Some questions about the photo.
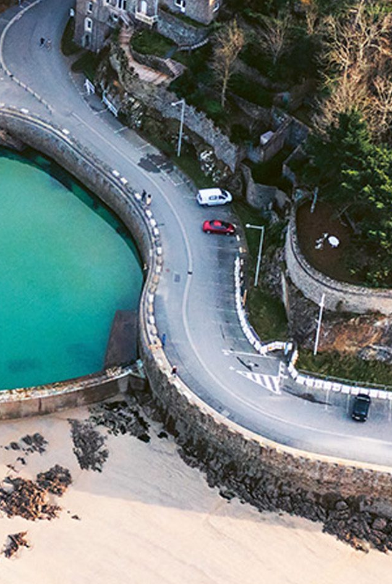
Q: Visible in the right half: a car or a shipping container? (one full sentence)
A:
Looking in the right half, you will find a car.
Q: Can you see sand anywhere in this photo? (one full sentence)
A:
Yes, the picture does contain sand.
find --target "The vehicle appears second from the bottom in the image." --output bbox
[203,220,236,236]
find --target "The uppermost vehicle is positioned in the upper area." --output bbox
[198,188,233,207]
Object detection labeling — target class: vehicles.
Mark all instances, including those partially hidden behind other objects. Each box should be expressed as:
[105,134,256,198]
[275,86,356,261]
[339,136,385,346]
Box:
[198,188,233,207]
[203,220,236,236]
[350,394,372,421]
